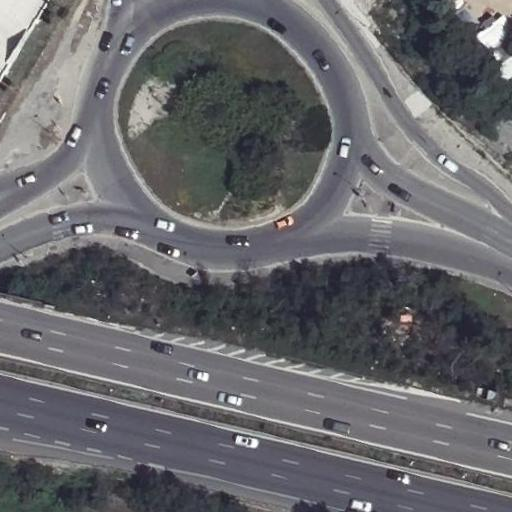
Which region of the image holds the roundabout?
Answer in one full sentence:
The roundabout is located in the top region of the scene.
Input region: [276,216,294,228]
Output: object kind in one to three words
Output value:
vehicle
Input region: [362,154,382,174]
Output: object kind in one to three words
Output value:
car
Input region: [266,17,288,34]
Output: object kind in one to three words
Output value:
car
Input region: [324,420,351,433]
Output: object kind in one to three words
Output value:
vehicle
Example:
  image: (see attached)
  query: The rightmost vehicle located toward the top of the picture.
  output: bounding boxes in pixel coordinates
[436,153,459,173]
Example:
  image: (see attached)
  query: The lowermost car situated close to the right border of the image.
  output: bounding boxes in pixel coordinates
[488,439,511,451]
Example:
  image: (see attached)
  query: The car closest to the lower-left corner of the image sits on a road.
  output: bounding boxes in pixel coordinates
[85,420,106,432]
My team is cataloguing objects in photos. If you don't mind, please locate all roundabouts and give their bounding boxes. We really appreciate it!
[82,0,367,264]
